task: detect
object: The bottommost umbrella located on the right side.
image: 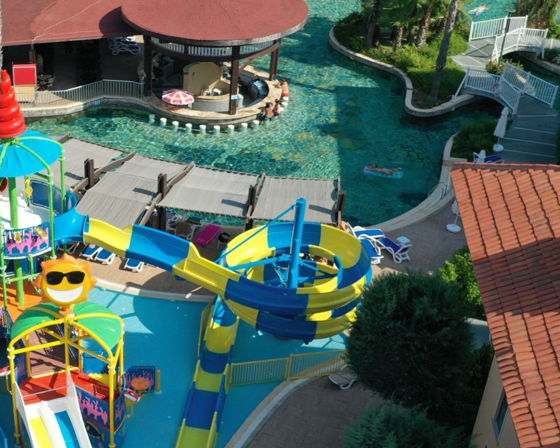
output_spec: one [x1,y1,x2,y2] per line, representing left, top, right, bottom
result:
[446,191,461,231]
